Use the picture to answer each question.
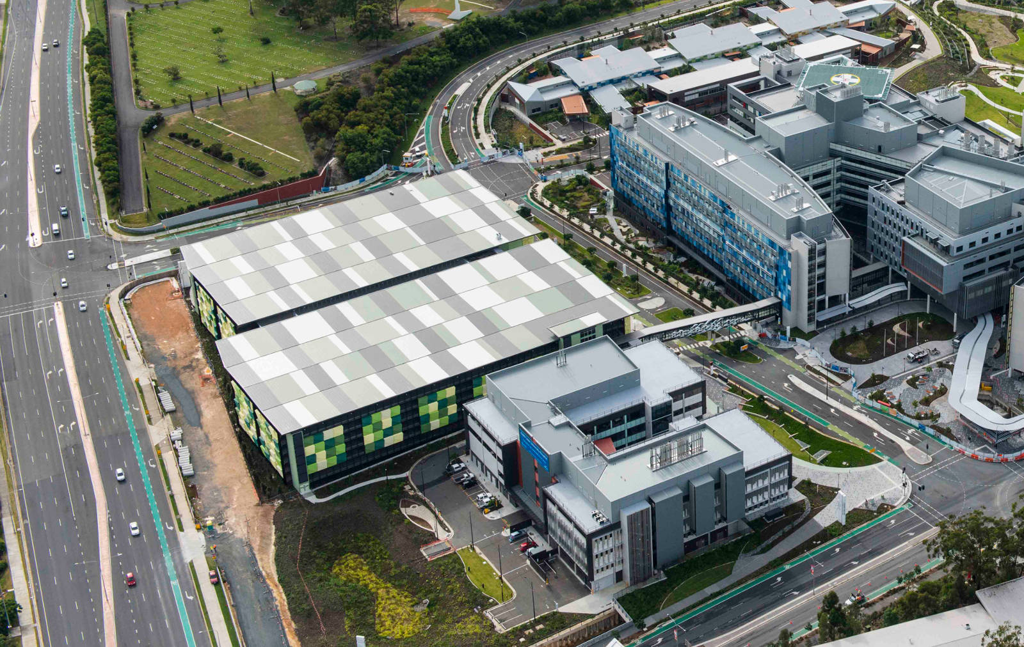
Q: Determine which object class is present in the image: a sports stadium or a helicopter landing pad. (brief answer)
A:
helicopter landing pad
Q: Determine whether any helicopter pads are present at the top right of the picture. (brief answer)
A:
Yes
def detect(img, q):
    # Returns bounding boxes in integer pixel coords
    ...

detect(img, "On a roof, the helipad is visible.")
[789,55,901,109]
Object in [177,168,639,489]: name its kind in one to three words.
building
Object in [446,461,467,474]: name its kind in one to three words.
vehicle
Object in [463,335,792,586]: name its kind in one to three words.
building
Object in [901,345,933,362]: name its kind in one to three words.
vehicle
